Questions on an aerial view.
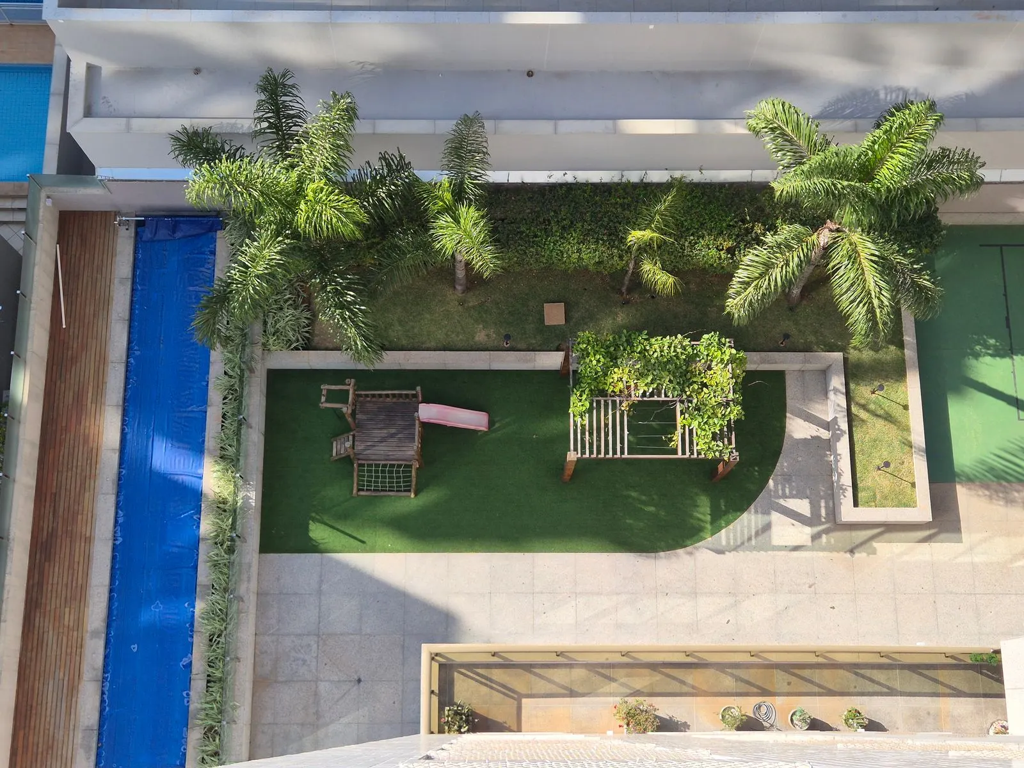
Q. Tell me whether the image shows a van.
No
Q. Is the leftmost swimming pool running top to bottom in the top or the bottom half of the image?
top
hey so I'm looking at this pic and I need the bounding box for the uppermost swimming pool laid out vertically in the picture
[0,64,53,183]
